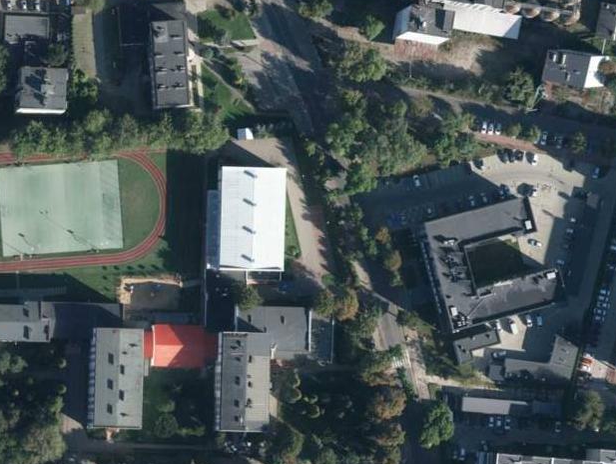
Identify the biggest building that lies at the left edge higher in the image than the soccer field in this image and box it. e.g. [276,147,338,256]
[14,67,68,114]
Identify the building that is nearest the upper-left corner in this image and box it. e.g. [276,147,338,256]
[2,14,49,47]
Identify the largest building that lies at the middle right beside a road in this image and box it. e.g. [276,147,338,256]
[419,198,565,333]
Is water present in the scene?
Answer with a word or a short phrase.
No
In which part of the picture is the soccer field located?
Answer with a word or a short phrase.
left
